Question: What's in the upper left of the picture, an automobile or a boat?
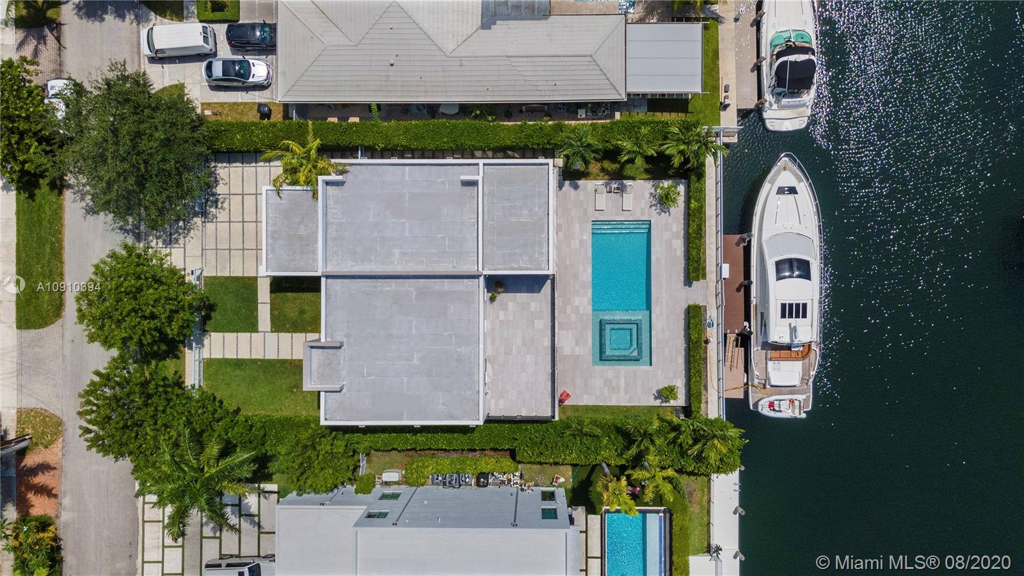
automobile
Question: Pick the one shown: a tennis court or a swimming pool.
swimming pool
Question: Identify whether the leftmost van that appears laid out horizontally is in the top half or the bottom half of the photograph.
top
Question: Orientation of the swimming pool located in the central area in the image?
vertically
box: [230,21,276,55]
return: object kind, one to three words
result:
car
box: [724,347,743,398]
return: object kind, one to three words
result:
pier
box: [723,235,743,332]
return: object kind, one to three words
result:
pier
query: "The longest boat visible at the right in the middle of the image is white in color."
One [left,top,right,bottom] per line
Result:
[748,151,823,410]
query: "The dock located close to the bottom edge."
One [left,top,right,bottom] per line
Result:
[712,471,739,576]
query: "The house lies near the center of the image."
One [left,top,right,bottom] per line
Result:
[259,157,558,428]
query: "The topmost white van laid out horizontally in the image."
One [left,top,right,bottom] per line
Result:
[144,22,220,60]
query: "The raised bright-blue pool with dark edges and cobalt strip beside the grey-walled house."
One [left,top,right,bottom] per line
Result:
[600,505,676,576]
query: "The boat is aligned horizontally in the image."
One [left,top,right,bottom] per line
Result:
[758,395,809,420]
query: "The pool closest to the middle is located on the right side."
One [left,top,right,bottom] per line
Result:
[591,221,651,366]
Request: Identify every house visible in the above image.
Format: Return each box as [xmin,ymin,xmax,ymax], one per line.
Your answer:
[259,157,558,428]
[276,0,627,106]
[276,485,579,576]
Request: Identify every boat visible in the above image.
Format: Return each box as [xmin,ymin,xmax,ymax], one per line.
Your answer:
[758,395,809,420]
[757,0,817,130]
[748,151,823,410]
